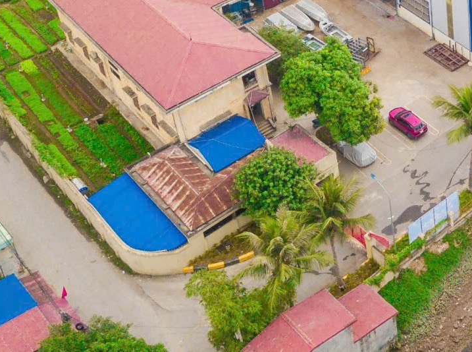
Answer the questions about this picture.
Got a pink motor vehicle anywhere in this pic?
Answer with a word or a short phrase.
Yes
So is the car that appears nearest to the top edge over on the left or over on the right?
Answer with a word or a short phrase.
right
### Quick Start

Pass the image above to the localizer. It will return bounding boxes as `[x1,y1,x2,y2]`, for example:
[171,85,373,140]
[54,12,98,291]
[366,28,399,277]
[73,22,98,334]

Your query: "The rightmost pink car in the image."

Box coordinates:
[387,107,434,143]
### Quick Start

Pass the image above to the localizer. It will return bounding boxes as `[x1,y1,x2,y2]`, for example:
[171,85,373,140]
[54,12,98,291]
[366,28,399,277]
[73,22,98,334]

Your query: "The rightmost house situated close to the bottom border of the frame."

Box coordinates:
[232,261,398,352]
